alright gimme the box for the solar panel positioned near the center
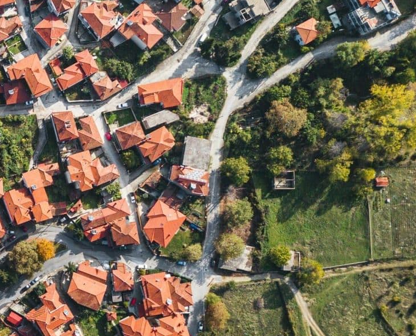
[175,168,203,190]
